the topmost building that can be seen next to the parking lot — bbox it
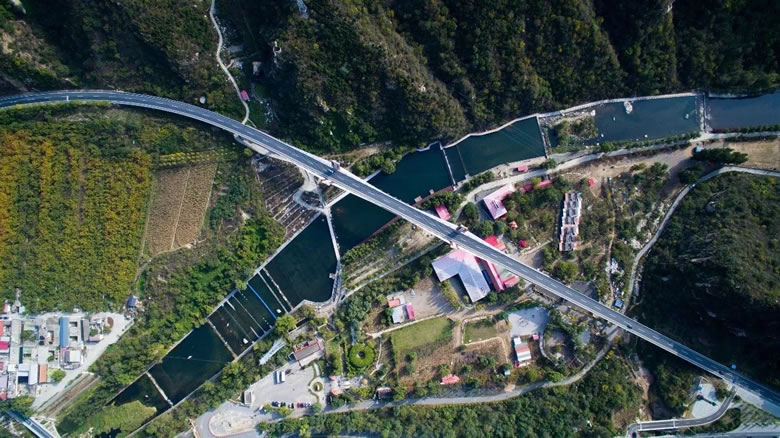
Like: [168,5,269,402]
[292,336,327,365]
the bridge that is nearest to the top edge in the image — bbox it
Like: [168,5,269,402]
[110,90,726,377]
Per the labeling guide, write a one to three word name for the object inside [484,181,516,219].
building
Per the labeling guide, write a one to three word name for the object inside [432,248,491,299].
building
